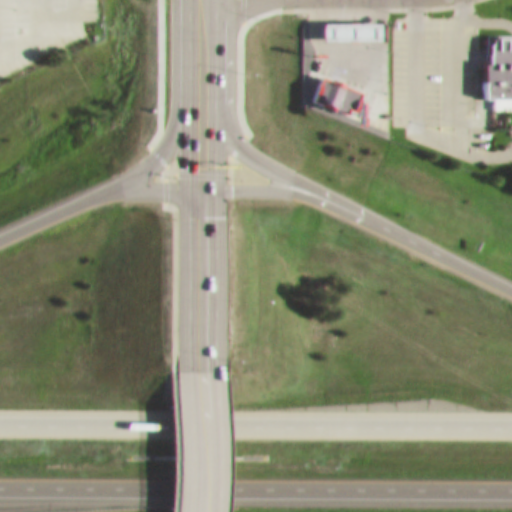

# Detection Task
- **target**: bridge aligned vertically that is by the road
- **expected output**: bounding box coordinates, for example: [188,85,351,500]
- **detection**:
[172,355,234,512]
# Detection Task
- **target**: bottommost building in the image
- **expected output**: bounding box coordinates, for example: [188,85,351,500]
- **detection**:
[315,81,362,113]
